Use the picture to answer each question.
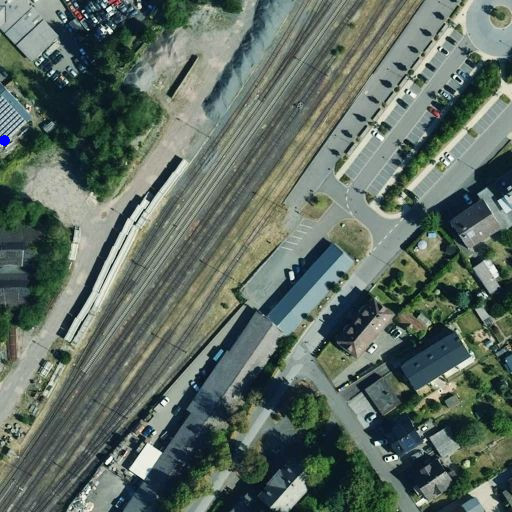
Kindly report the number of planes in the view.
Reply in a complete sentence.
There are no planes in the image.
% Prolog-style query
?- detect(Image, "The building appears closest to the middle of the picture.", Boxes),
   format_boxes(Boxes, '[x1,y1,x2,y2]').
[267,244,353,336]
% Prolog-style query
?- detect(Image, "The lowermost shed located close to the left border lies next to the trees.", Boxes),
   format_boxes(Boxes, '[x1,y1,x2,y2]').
[0,273,29,306]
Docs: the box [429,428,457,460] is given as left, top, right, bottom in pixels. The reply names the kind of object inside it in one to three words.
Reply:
shed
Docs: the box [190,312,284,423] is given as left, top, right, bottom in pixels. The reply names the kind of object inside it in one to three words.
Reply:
building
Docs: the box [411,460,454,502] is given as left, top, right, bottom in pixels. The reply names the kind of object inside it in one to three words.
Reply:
house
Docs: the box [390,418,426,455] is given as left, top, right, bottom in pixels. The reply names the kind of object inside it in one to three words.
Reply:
house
